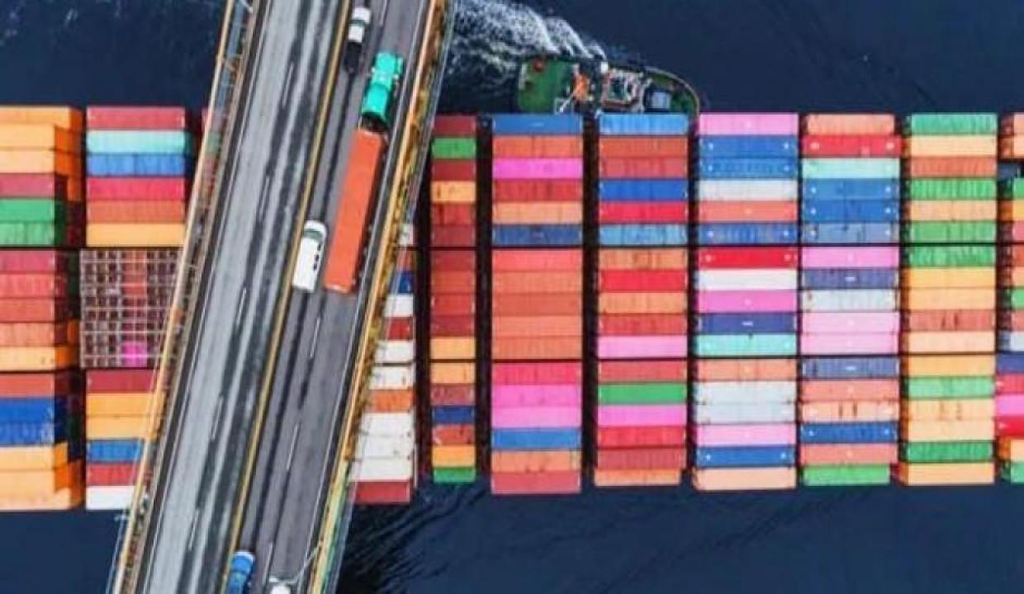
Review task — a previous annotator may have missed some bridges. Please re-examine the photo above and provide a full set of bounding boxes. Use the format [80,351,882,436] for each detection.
[105,0,463,594]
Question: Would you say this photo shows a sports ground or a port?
port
